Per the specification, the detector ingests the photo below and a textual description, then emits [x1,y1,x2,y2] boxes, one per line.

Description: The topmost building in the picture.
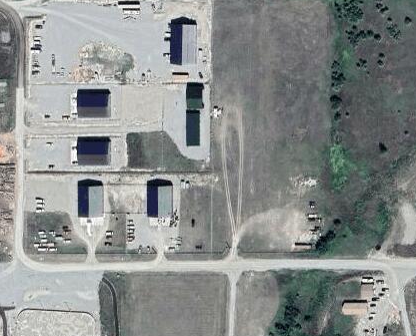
[170,20,197,64]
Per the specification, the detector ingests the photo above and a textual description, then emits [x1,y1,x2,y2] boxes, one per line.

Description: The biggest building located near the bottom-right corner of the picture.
[341,302,367,315]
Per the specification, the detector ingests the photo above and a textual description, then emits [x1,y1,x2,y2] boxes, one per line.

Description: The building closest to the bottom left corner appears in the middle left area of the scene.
[77,185,104,217]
